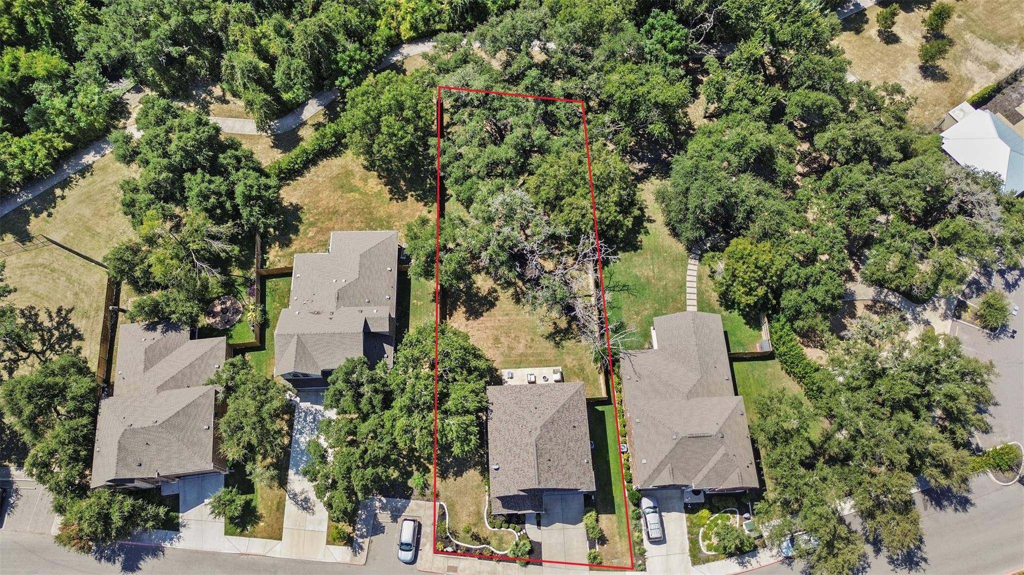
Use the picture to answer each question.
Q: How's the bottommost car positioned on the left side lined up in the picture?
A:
from top to bottom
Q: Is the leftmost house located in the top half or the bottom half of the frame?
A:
bottom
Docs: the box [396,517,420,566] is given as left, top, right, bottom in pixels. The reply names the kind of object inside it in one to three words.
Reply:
car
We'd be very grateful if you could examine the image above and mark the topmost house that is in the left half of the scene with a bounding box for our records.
[274,229,398,391]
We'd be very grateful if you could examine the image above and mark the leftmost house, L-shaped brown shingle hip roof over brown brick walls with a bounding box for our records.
[91,322,231,493]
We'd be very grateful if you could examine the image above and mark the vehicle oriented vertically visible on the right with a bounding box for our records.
[638,498,664,544]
